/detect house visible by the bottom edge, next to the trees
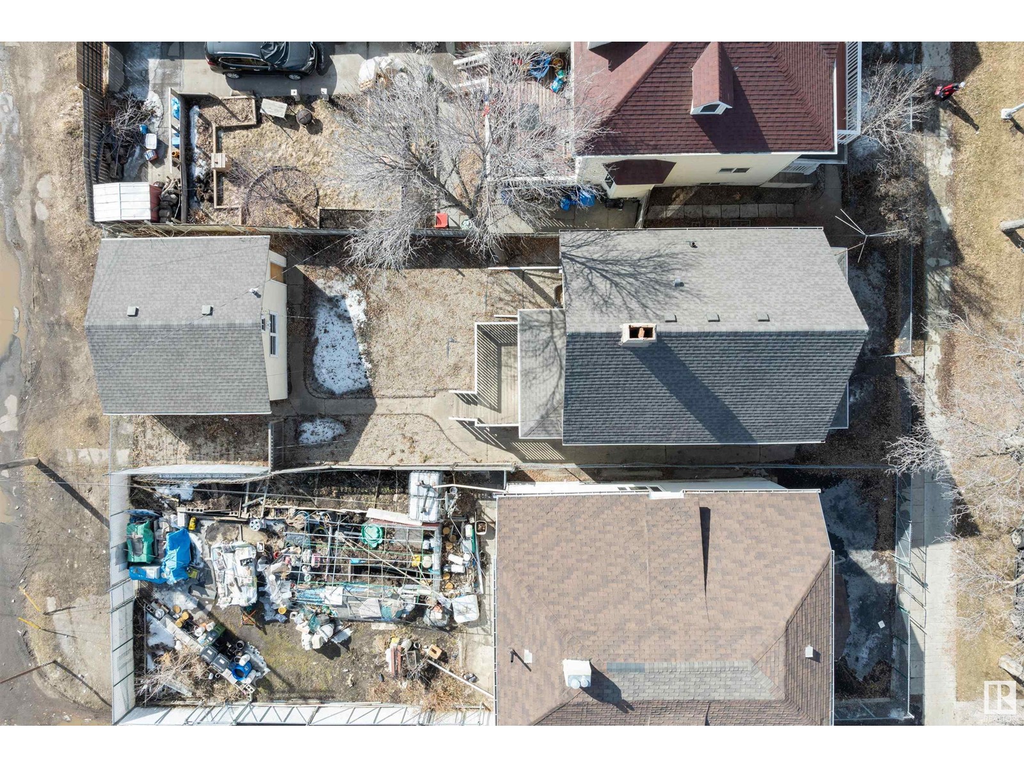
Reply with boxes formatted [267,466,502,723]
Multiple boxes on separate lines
[491,481,850,768]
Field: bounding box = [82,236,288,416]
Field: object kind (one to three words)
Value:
building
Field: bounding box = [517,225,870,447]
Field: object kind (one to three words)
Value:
house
